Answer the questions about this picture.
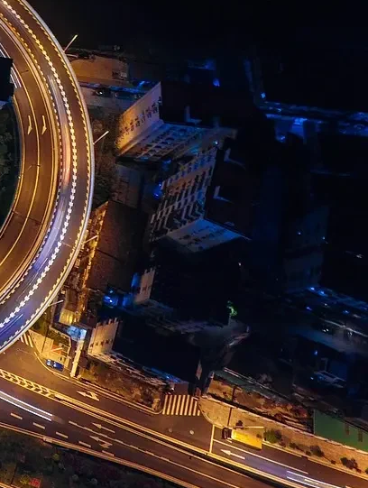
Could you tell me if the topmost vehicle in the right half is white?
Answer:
No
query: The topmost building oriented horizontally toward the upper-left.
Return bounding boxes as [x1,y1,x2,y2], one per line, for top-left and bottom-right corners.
[72,57,129,86]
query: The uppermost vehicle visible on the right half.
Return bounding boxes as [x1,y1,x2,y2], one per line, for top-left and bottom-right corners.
[224,427,269,447]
